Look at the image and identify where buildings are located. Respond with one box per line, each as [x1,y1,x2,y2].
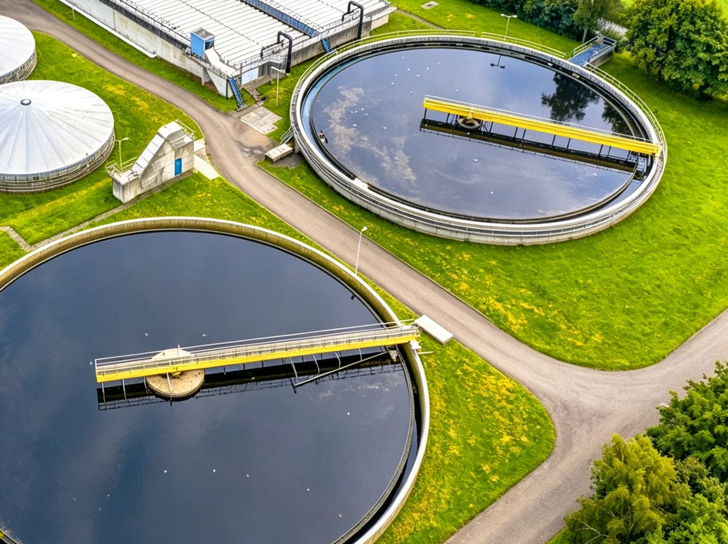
[67,0,405,99]
[107,118,195,203]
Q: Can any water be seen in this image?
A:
Yes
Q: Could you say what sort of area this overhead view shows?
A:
industrial area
